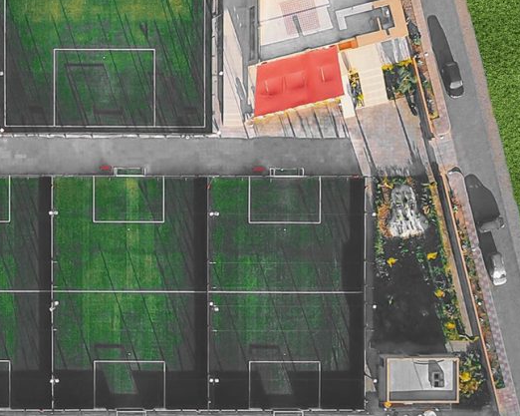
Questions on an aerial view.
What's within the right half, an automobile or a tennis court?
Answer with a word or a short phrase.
automobile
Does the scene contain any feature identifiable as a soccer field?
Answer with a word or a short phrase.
Yes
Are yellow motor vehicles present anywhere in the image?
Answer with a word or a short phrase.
No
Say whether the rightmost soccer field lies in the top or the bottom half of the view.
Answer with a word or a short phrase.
bottom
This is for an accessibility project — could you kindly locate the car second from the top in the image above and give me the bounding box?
[476,216,506,234]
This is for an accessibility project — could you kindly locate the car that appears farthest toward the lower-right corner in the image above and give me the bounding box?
[488,254,510,287]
